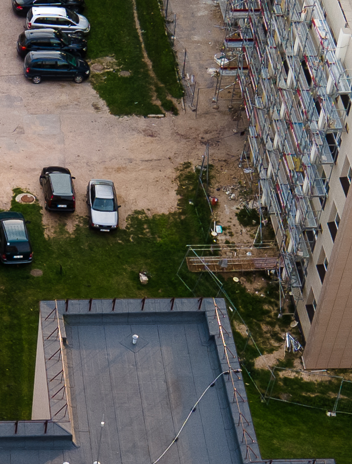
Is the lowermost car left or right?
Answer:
left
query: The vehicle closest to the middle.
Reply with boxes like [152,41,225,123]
[79,164,122,226]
